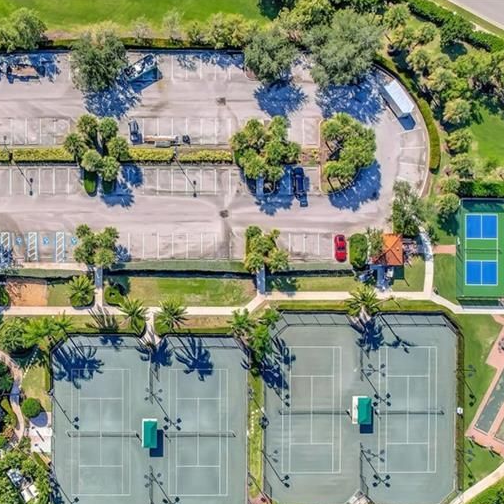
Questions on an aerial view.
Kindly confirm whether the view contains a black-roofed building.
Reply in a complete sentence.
No, no black-roofed building is visible in the view.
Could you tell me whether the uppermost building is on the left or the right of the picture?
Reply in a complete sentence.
The uppermost building sits on the right side.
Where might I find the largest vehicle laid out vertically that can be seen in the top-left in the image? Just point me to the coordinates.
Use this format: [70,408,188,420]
[128,119,140,147]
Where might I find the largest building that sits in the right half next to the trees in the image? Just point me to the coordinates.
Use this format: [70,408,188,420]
[369,234,404,265]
